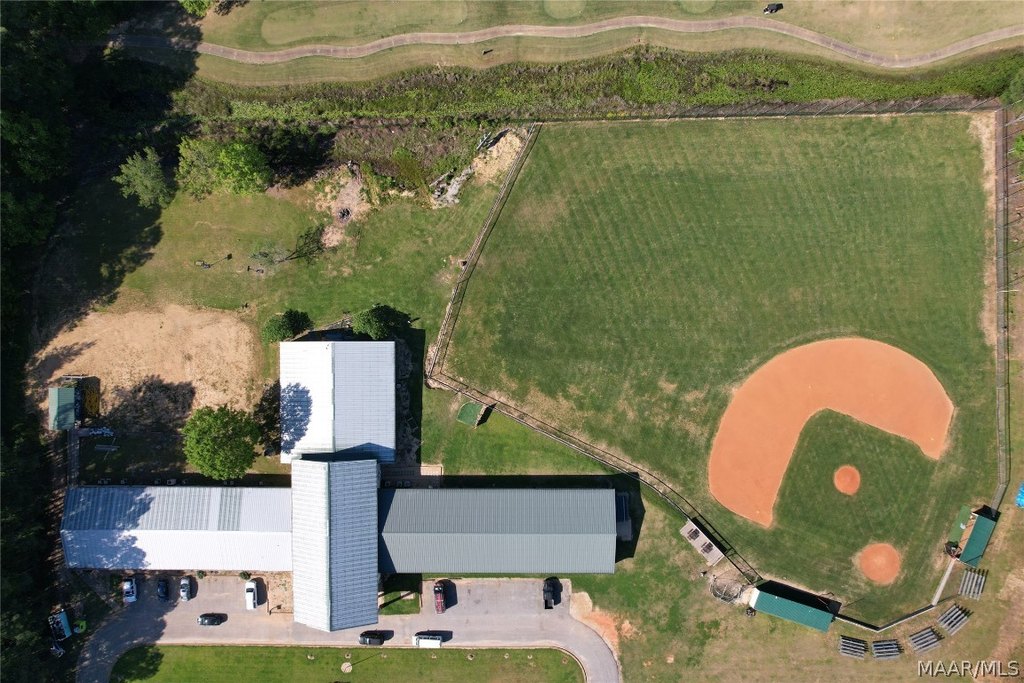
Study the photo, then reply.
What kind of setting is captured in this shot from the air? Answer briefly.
sports ground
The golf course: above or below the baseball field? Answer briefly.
above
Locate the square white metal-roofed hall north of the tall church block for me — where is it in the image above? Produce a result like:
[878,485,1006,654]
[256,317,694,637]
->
[279,341,397,463]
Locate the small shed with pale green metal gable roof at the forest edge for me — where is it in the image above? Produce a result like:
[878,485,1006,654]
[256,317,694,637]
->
[49,387,83,431]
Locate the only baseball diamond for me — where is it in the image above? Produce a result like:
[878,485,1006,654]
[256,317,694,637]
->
[431,112,998,628]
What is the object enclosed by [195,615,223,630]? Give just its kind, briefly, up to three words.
car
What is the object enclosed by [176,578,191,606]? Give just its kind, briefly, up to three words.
car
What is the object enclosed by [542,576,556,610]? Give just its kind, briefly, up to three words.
vehicle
